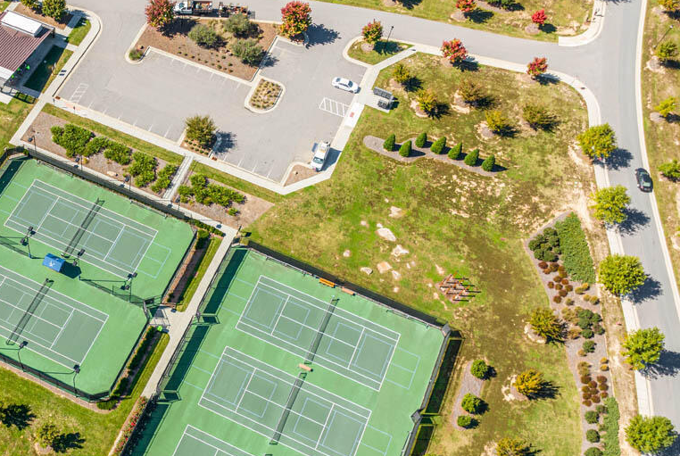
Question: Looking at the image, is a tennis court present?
Yes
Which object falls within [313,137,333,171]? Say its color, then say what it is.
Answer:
white vehicle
